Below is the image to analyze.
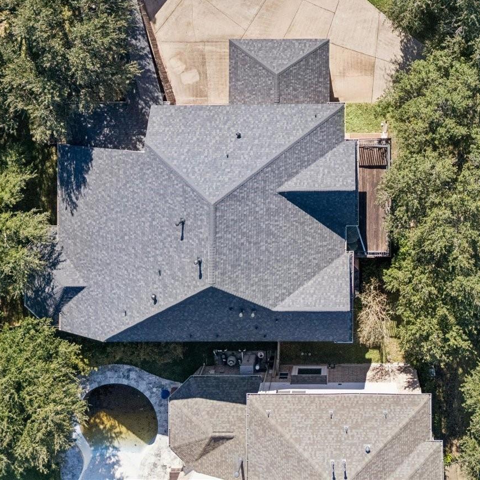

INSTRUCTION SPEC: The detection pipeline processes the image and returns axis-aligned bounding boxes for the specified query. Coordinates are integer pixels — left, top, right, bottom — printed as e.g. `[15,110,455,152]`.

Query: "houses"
[22,0,366,343]
[166,360,445,480]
